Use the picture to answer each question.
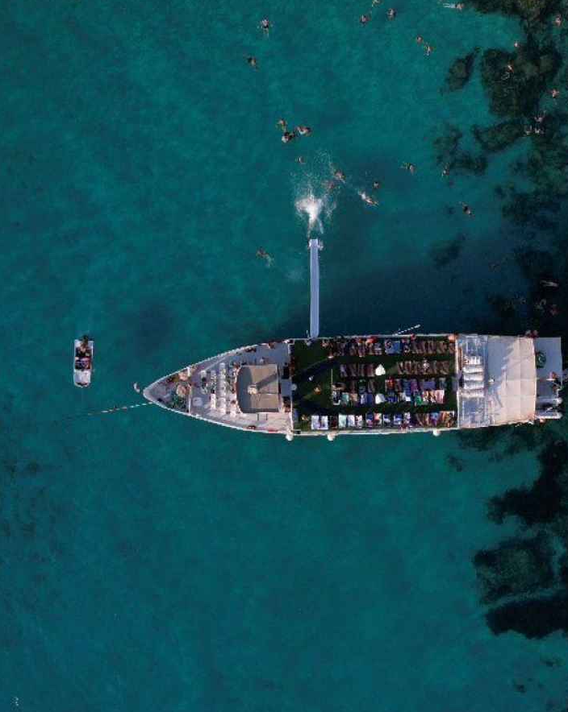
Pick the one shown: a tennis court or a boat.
boat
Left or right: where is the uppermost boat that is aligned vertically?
left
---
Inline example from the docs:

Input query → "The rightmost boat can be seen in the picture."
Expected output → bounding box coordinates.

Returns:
[536,399,563,422]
